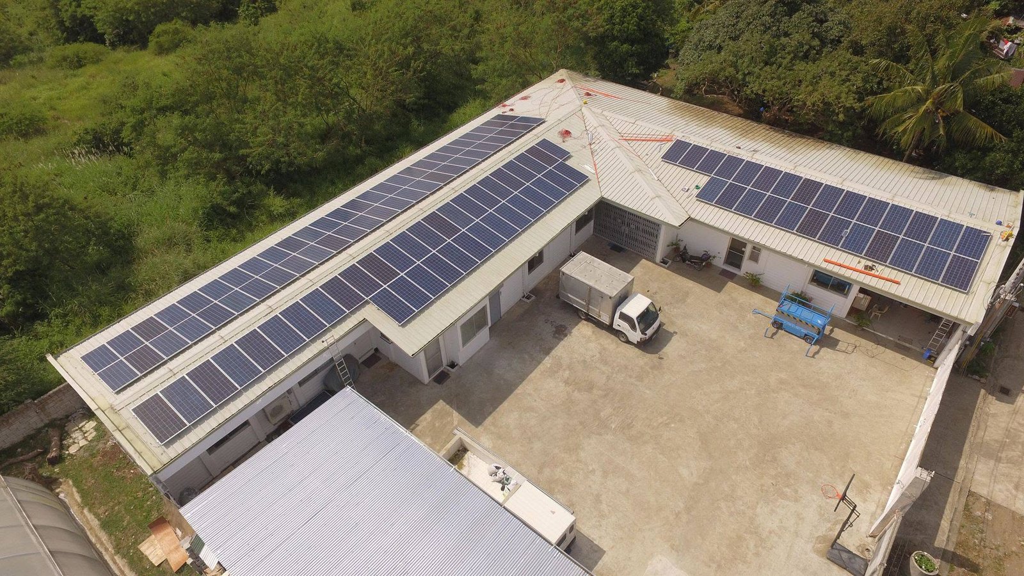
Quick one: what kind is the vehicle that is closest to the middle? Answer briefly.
truck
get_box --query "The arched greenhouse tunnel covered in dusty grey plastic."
[0,478,110,576]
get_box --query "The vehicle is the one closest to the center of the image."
[558,252,664,348]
